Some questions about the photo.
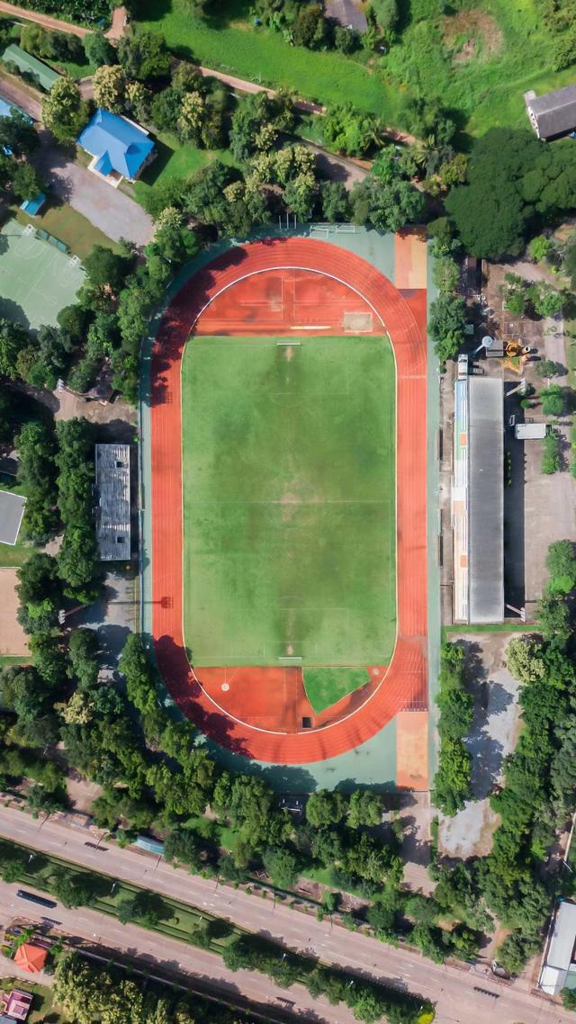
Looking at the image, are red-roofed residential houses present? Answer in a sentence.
Yes, looking at the shot, I can spot a red-roofed residential house.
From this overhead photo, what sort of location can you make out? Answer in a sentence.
This looks like a sports ground.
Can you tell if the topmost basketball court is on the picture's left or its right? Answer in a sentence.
You can find the topmost basketball court on the left side of the picture.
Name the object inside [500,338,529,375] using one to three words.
playground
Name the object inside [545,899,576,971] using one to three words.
house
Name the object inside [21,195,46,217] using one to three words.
building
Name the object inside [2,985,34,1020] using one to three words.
house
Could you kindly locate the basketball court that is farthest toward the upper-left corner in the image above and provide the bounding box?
[0,218,90,342]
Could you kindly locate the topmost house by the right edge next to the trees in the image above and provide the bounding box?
[527,88,576,138]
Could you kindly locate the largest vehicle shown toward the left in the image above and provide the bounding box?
[17,887,57,910]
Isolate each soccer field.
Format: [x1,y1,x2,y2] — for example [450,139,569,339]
[183,336,395,667]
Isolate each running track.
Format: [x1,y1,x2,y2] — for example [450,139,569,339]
[139,222,440,792]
